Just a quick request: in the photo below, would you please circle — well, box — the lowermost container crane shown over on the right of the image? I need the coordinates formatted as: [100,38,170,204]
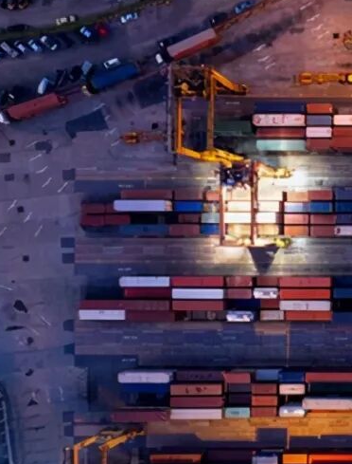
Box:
[218,153,291,251]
